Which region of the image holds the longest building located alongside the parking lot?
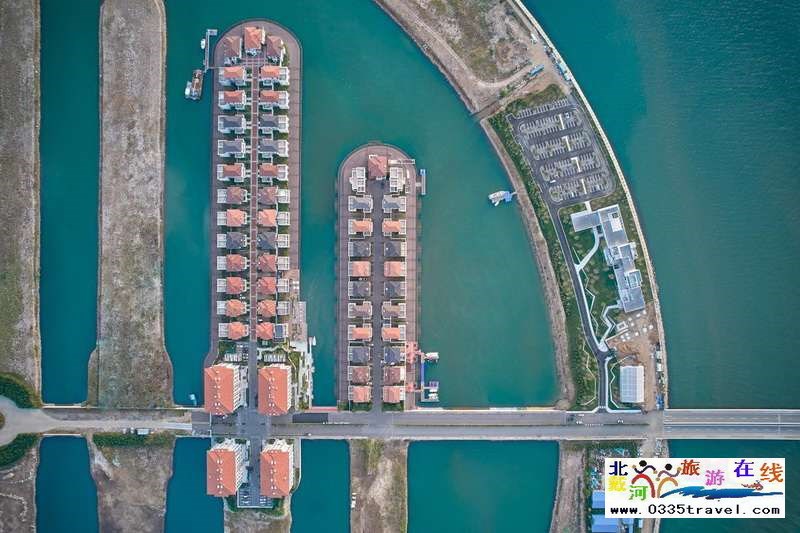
right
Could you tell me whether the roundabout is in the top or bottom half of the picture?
bottom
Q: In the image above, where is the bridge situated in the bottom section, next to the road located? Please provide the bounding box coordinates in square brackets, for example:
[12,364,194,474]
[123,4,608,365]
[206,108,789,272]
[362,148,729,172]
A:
[667,410,800,442]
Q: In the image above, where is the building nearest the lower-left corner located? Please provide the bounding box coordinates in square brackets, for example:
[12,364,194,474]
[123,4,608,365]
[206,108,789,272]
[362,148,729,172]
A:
[205,438,250,495]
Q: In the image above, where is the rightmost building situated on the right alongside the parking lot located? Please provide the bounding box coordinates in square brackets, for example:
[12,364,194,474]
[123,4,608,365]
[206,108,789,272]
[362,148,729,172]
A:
[570,204,645,313]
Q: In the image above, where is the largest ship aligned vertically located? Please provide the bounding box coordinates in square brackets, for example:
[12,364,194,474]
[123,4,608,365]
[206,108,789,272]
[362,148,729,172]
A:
[191,70,205,99]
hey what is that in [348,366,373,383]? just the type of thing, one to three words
house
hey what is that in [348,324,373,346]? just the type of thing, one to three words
house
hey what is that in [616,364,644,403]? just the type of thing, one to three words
building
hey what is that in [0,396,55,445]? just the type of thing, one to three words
roundabout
